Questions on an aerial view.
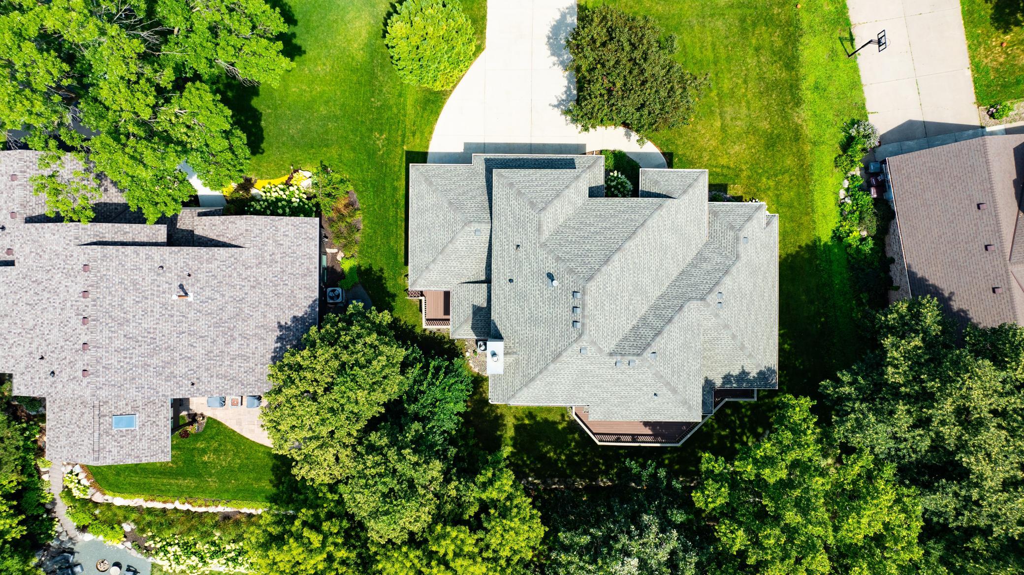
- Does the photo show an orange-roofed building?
No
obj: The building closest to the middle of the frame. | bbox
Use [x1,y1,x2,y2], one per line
[408,154,780,423]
